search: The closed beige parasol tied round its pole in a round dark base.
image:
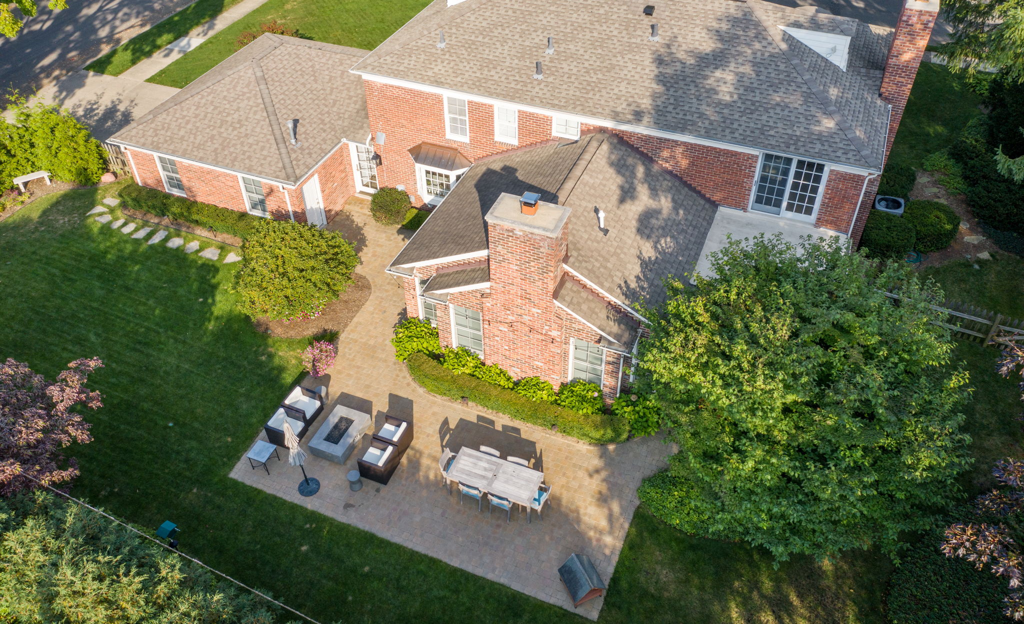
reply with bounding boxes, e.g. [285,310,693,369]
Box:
[285,417,321,496]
